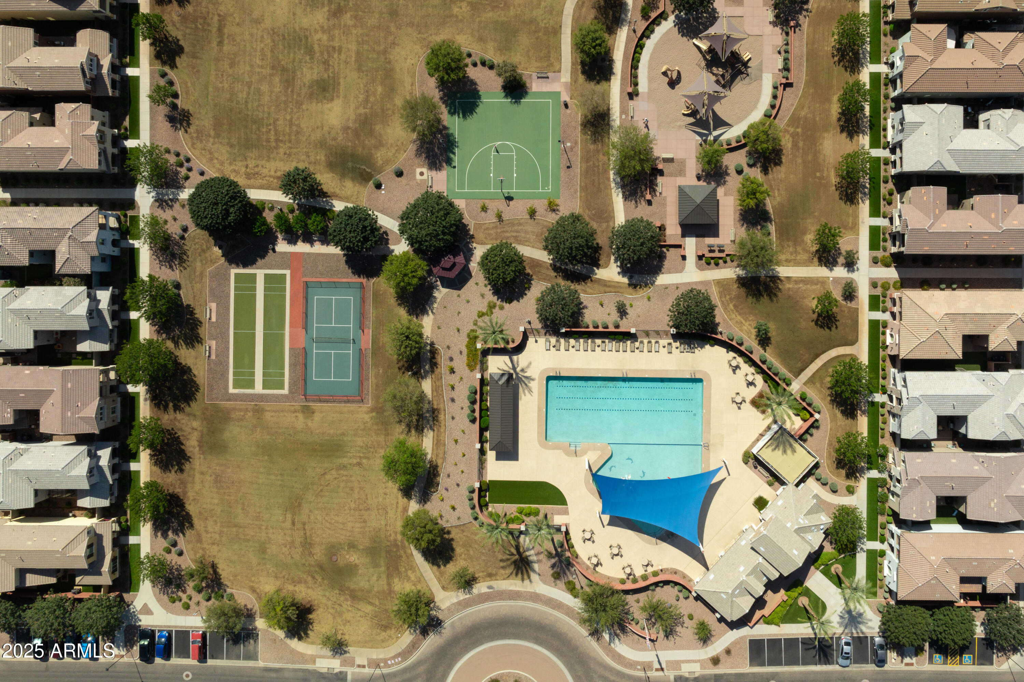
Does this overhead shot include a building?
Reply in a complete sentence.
Yes, looking at the shot, I can spot a building.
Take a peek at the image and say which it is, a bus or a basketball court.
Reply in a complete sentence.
Of the two, only a basketball court appears.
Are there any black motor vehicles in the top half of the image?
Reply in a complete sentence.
No, no black motor vehicle appears in the top half of the image.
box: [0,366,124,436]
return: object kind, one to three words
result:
house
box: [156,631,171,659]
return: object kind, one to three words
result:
car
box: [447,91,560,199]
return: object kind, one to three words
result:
basketball court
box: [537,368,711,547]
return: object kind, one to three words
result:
swimming pool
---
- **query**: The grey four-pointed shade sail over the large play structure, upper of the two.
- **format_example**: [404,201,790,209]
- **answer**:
[699,10,749,61]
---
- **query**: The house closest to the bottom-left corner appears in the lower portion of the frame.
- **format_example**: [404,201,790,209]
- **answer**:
[0,519,122,594]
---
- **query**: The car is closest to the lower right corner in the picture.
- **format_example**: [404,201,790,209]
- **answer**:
[872,635,887,668]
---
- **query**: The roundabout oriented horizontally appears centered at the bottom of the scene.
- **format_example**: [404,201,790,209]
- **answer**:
[449,640,572,682]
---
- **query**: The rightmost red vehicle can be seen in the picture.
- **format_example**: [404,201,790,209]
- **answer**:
[190,631,205,661]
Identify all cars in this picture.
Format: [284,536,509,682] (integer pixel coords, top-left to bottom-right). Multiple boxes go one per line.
[190,631,205,661]
[138,629,155,662]
[836,635,852,667]
[80,632,97,660]
[48,632,64,661]
[31,636,48,661]
[156,631,171,659]
[872,635,887,668]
